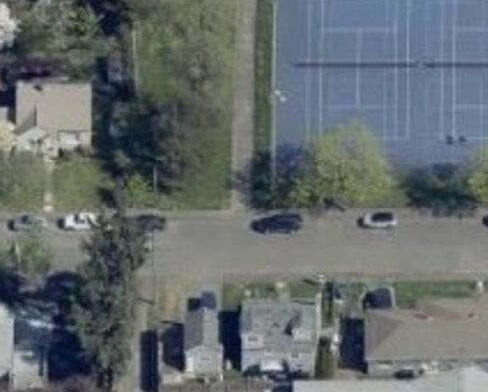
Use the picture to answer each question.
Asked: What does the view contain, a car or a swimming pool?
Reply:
car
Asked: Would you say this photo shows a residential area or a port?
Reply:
residential area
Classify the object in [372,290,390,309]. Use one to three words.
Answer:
vehicle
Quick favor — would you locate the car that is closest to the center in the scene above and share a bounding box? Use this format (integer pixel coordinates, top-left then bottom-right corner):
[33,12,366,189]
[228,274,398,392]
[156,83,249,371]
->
[254,214,300,235]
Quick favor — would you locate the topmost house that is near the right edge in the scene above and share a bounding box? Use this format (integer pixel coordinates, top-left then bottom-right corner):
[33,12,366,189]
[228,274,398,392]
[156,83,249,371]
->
[366,299,488,376]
